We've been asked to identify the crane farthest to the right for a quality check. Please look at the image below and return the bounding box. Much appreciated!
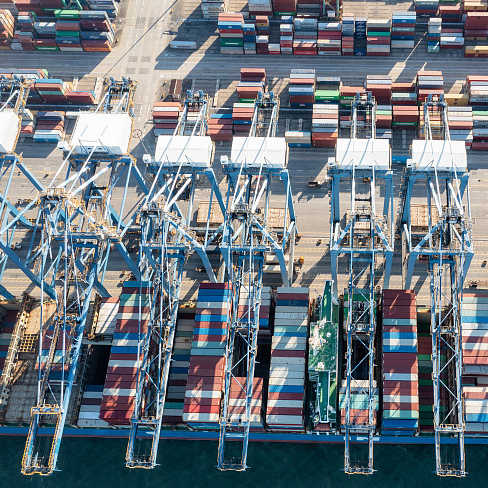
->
[392,87,479,479]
